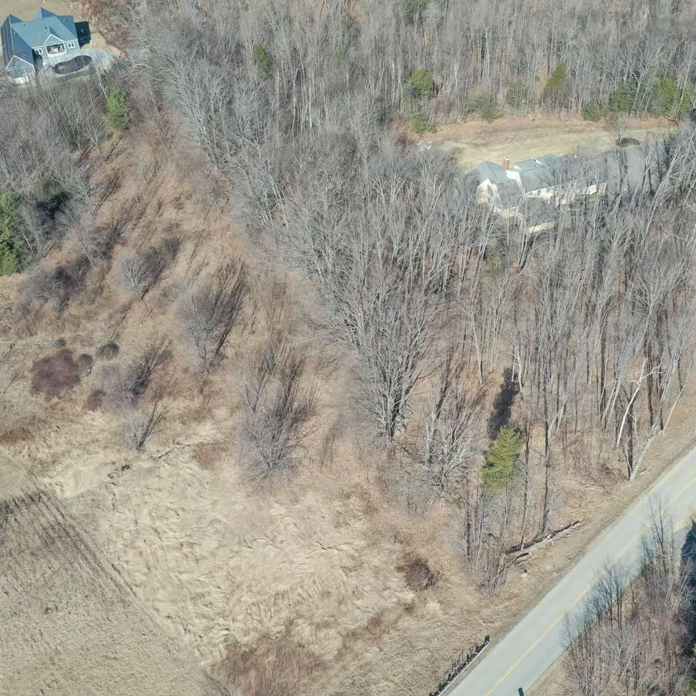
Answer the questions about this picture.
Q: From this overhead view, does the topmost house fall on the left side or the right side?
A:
left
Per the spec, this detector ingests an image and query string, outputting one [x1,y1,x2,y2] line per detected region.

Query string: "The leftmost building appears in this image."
[0,1,82,83]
